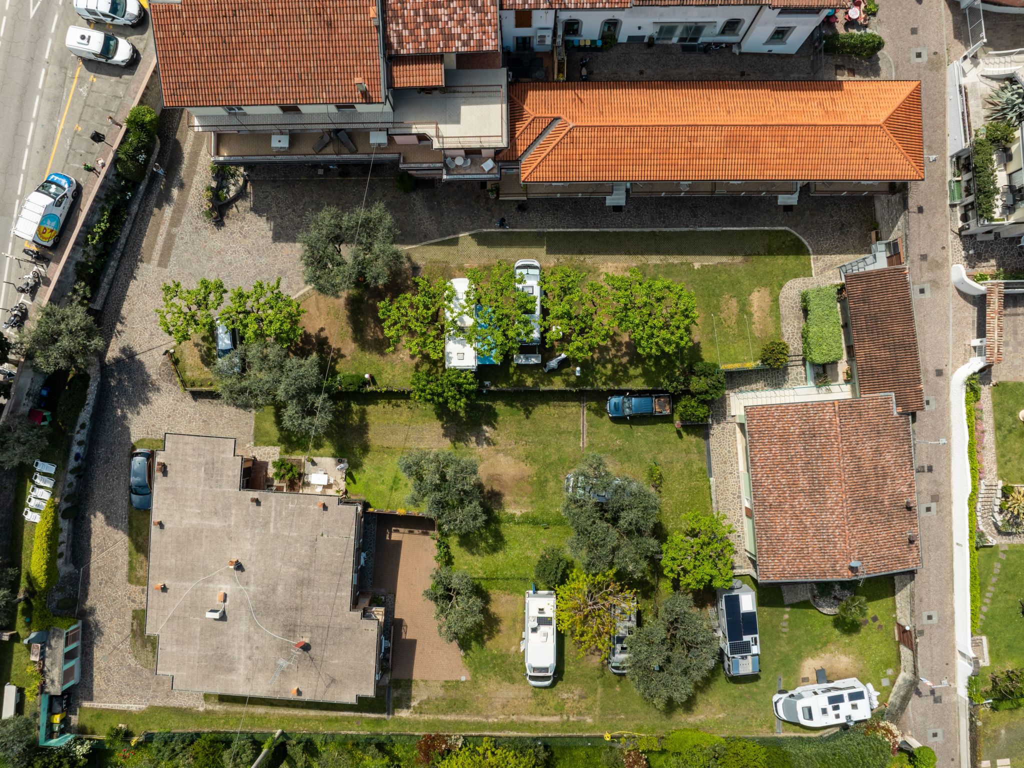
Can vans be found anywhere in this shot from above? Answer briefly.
Yes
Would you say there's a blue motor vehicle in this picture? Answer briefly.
Yes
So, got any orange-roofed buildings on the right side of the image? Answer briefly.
Yes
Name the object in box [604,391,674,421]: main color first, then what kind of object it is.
blue truck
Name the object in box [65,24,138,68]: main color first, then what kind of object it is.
white van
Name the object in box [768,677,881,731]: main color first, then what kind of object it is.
white camper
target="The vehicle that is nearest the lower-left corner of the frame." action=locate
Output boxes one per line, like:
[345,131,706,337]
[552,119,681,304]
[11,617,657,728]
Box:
[125,449,153,508]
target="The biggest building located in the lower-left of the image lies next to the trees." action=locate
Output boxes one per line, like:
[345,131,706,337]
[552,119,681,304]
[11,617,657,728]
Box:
[144,432,382,706]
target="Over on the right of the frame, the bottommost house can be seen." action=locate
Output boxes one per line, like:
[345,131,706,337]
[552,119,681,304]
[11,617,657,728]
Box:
[730,396,923,585]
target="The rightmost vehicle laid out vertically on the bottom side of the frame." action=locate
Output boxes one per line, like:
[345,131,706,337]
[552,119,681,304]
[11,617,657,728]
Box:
[714,580,761,679]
